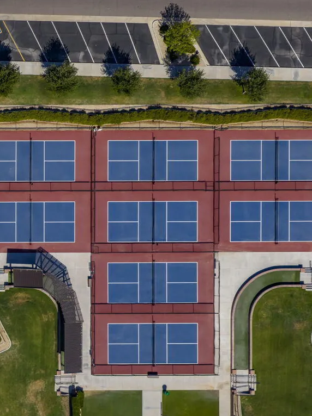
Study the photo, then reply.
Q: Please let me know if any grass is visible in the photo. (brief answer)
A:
Yes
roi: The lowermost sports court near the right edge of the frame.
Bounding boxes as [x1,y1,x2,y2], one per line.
[216,190,312,252]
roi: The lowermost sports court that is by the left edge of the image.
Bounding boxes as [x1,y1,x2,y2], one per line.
[0,190,93,252]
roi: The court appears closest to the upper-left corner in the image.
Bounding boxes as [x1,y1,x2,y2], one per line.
[0,130,93,189]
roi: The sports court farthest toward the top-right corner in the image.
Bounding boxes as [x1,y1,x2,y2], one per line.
[216,130,312,190]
